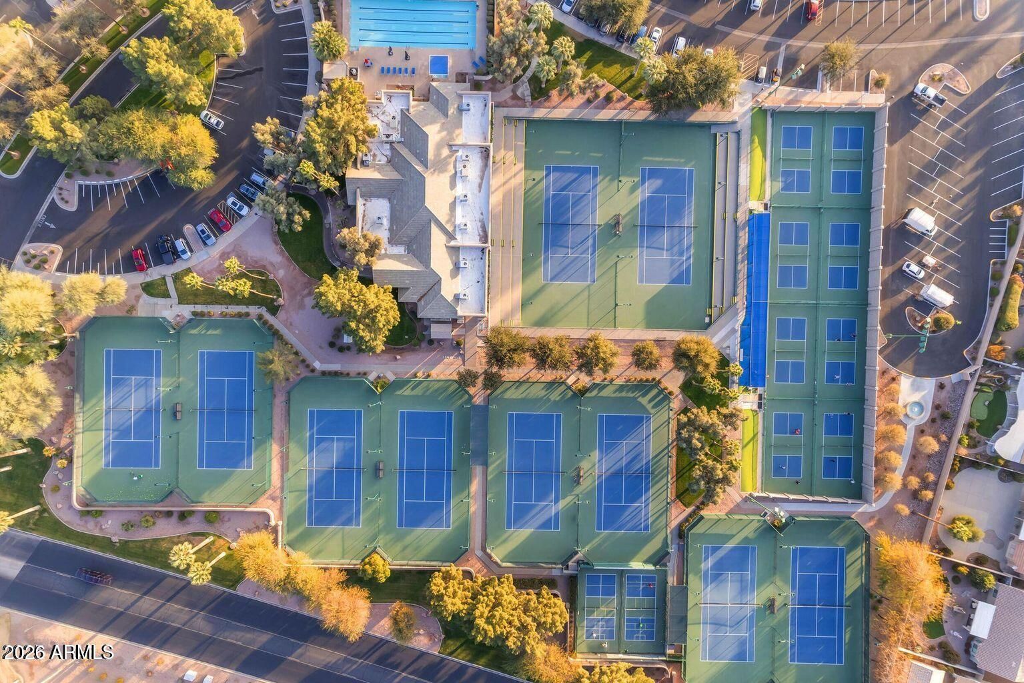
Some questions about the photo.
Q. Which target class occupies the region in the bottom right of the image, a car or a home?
home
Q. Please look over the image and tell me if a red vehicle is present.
Yes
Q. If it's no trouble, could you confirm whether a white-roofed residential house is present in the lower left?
No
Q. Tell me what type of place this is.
sports ground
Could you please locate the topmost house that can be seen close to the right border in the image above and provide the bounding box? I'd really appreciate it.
[980,372,1024,465]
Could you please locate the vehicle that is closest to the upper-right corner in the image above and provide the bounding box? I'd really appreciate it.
[912,84,948,108]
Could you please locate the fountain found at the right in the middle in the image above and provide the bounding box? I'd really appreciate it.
[906,400,926,419]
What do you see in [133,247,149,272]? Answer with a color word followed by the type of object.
red car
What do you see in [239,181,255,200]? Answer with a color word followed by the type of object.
blue car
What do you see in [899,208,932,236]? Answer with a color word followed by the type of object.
white truck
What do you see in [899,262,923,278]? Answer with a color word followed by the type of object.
white car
